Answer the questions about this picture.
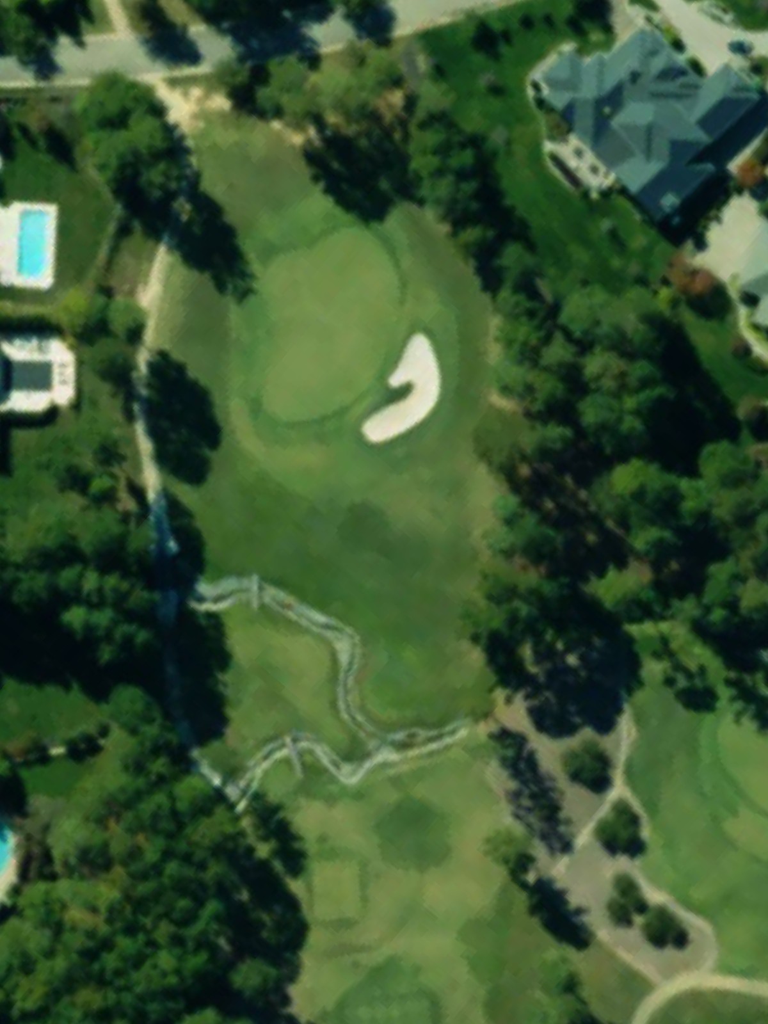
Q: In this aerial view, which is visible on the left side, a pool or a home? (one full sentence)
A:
It is a pool that can be seen on the left side.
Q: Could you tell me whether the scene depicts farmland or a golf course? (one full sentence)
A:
This looks like a golf course.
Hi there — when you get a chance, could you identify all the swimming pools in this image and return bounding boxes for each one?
[0,335,76,412]
[0,202,59,289]
[0,813,15,902]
